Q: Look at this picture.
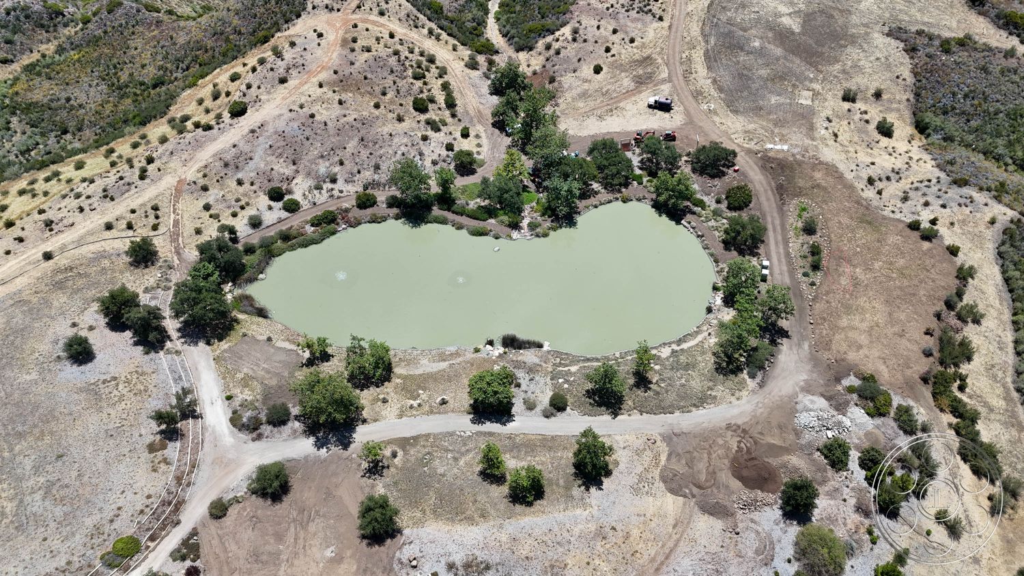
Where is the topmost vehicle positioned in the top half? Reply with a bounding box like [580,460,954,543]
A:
[645,95,675,110]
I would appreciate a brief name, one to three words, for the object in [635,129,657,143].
work vehicle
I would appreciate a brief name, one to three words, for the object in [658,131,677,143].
vehicle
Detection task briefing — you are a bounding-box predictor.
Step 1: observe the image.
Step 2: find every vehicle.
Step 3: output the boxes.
[645,95,675,110]
[635,129,657,143]
[658,131,677,143]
